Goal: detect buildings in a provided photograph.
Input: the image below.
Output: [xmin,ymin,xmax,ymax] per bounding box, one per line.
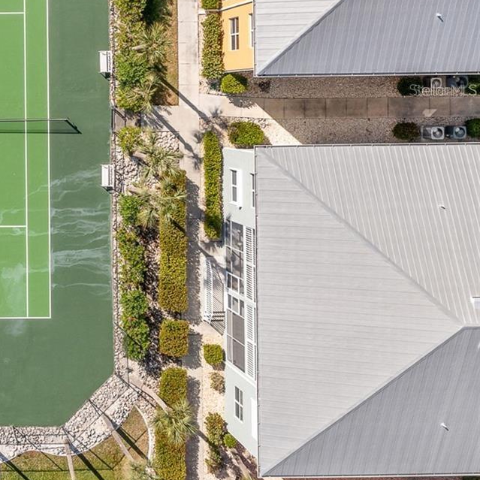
[217,0,480,74]
[195,142,480,475]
